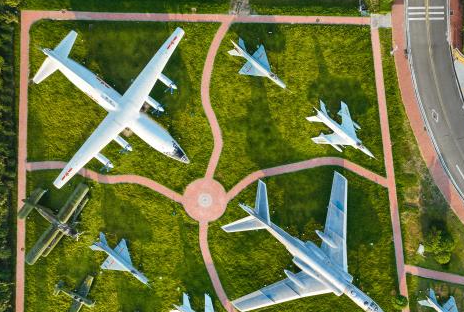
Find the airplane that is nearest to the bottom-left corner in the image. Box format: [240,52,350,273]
[53,274,95,312]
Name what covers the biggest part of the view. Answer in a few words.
grass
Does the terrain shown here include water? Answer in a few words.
No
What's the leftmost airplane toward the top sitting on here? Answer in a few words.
grass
